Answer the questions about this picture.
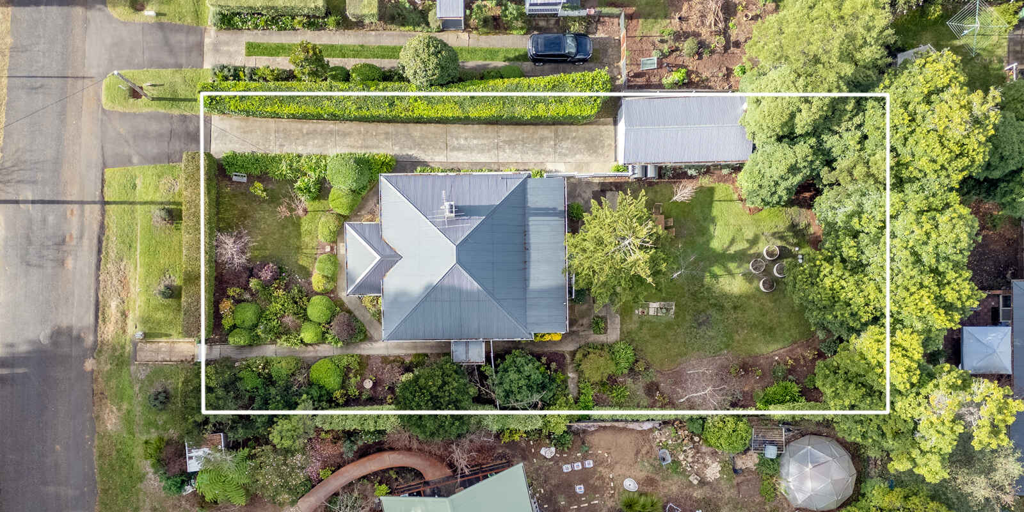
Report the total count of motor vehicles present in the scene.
one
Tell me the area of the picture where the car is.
top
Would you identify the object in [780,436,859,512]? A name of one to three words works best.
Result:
greenhouse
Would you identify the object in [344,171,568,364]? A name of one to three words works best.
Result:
house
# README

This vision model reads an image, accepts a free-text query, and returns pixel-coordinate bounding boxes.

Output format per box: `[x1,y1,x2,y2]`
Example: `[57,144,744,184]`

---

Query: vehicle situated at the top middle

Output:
[529,32,593,67]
